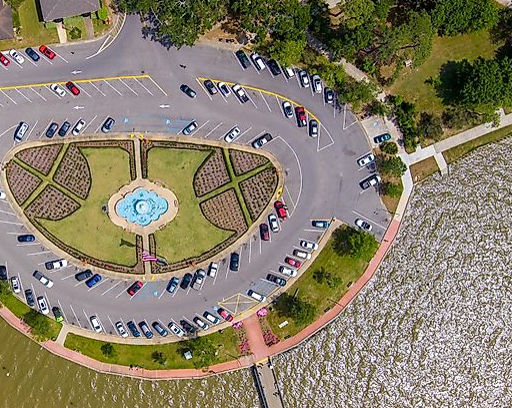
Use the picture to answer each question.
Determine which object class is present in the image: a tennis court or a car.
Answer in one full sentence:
Of the two, only a car appears.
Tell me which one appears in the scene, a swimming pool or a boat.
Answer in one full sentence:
I can see a swimming pool in this picture.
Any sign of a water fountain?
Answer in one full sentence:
Yes, the image includes a water fountain.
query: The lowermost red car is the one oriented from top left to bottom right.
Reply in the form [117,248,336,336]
[216,306,234,322]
